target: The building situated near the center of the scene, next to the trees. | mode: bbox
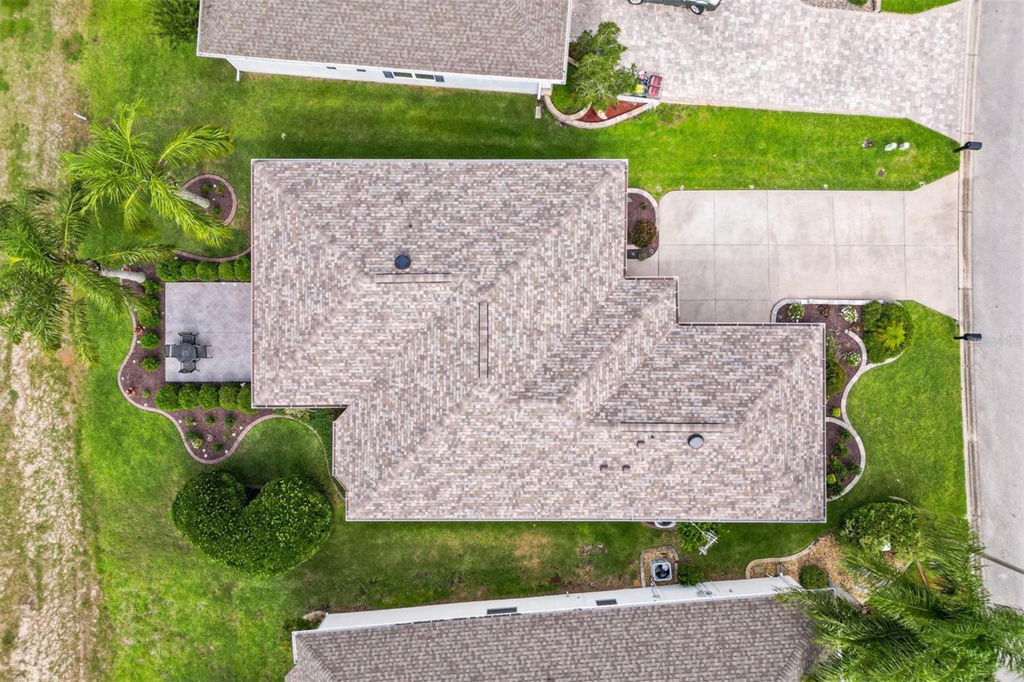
[252,160,825,521]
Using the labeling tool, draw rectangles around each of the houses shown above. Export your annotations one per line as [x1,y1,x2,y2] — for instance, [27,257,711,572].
[252,160,825,521]
[290,572,843,682]
[197,0,571,99]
